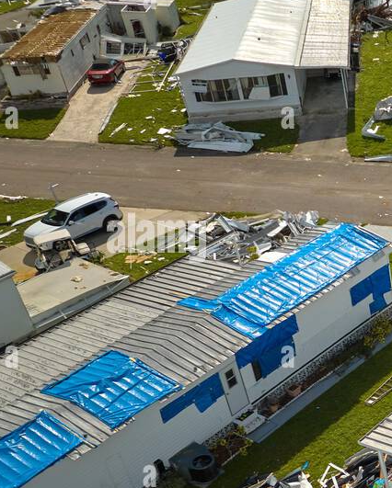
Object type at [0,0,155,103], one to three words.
house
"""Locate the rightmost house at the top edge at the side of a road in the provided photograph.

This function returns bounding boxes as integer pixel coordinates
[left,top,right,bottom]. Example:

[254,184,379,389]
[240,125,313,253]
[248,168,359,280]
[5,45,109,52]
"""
[174,0,352,119]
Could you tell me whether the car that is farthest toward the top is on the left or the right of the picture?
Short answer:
left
